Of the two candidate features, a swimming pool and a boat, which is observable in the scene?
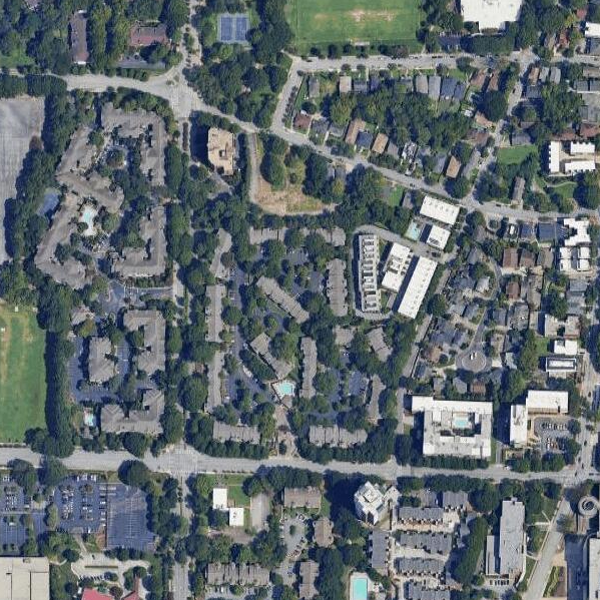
swimming pool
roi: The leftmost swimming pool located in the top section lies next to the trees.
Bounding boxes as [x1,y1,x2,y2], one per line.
[80,206,98,236]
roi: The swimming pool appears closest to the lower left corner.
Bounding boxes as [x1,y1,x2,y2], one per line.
[82,407,96,426]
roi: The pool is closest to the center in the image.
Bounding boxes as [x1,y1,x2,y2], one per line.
[274,379,297,398]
